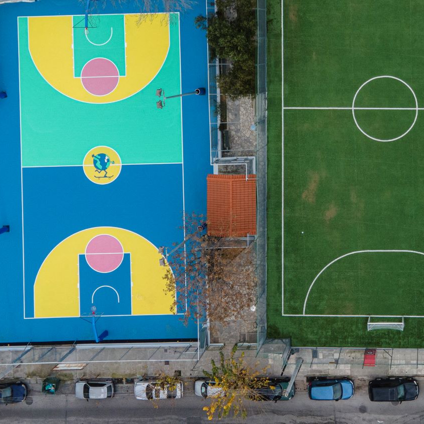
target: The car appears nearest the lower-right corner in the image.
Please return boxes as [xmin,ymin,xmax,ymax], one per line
[367,379,418,406]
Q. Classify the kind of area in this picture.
sports ground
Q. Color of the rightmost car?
black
